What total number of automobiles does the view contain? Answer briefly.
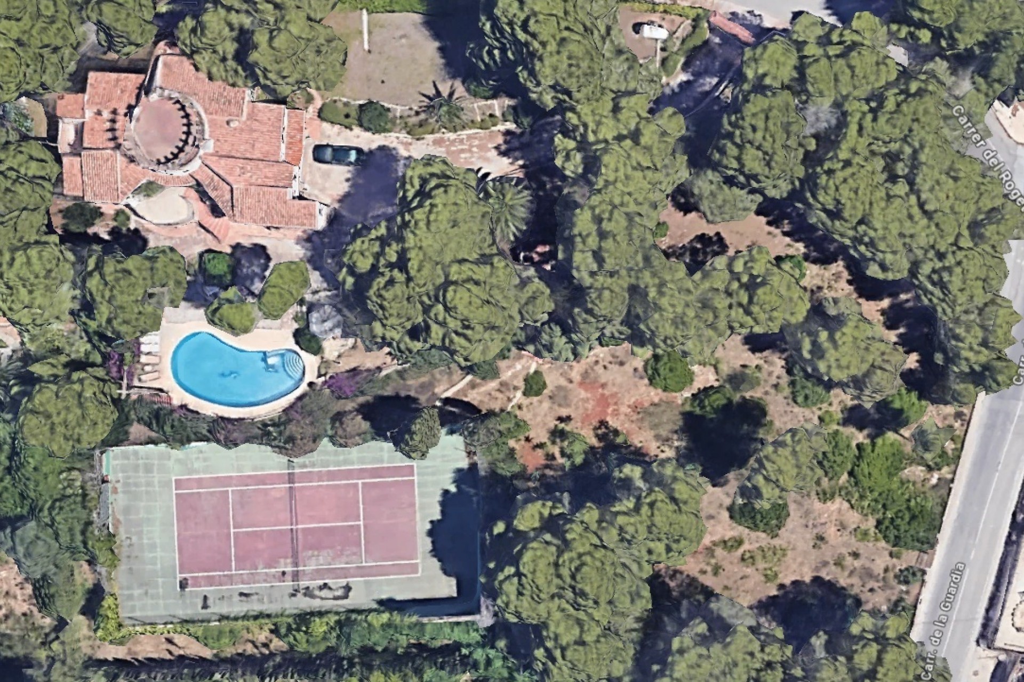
one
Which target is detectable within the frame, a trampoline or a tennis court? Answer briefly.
tennis court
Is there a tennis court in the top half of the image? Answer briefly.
No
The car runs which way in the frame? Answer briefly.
from left to right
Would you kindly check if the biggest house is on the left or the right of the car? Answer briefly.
to the left of it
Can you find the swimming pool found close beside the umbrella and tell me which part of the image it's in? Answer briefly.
left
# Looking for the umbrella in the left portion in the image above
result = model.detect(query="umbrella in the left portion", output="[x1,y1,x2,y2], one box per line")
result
[309,303,342,337]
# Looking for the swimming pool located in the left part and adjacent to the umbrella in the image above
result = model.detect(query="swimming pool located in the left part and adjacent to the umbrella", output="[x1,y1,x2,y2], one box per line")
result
[133,322,318,418]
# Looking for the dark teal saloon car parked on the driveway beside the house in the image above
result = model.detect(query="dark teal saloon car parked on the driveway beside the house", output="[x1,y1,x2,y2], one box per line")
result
[314,142,364,166]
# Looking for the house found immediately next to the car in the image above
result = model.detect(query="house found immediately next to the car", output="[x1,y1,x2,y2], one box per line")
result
[57,42,326,232]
